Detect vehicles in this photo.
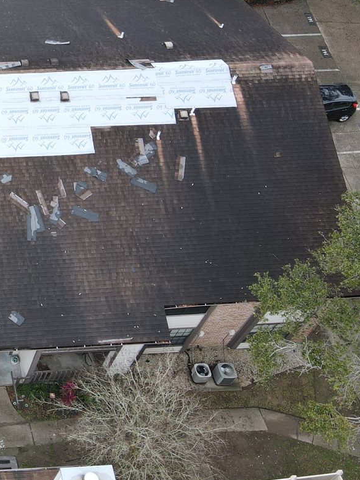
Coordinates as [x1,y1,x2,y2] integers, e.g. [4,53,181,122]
[317,78,355,120]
